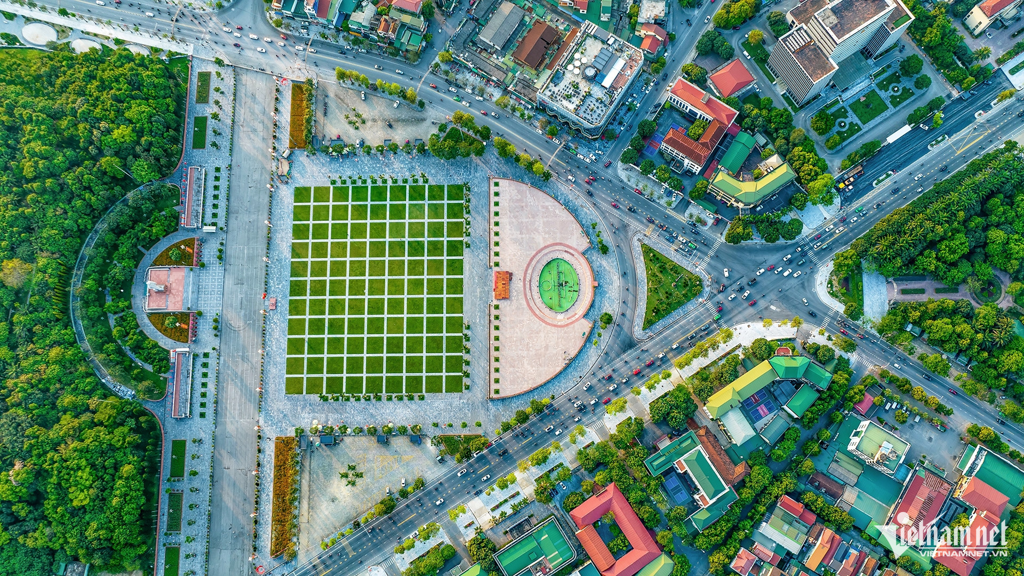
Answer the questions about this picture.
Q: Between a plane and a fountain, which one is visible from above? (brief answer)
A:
fountain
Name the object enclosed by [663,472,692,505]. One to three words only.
sports court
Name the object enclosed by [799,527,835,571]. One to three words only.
house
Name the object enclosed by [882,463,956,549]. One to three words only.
building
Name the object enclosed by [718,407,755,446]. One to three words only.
building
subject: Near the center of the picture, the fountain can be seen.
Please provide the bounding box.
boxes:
[524,242,598,327]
